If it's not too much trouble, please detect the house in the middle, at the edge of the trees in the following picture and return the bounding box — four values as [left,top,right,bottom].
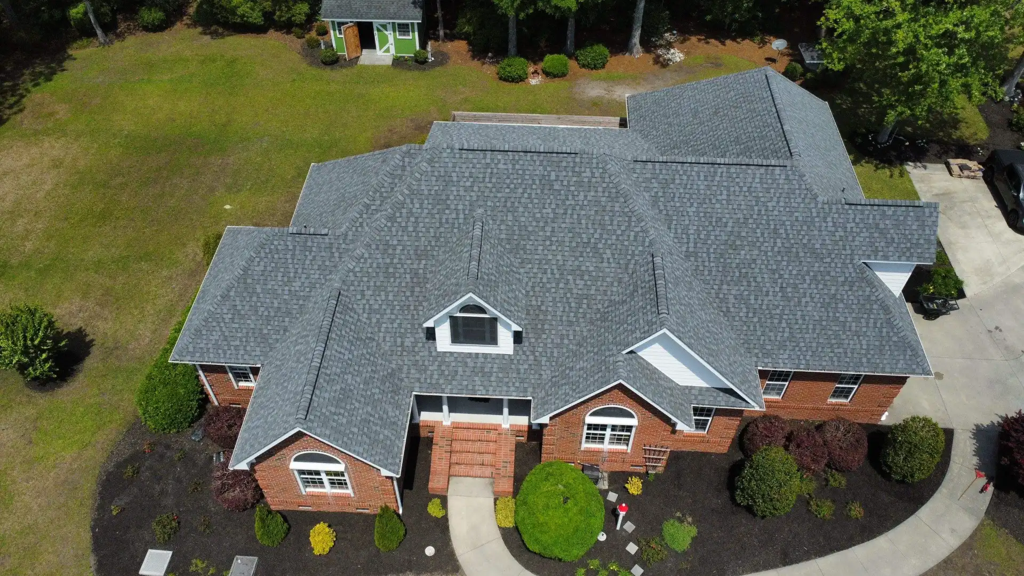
[169,65,940,525]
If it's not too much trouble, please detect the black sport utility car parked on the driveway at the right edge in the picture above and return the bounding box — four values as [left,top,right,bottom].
[984,144,1024,228]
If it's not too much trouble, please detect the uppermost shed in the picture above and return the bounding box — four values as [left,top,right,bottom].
[321,0,428,59]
